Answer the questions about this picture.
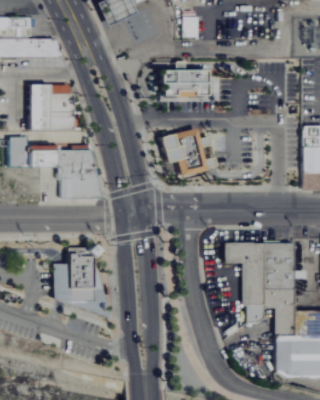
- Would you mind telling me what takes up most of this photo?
paved ground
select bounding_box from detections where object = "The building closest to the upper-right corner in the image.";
[178,10,199,39]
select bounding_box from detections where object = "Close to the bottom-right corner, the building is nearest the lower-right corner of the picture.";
[272,335,320,376]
